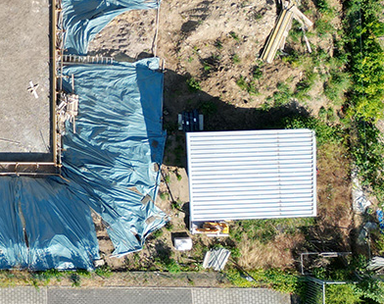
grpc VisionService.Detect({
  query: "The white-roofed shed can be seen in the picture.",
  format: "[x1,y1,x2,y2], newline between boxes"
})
[163,127,320,224]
